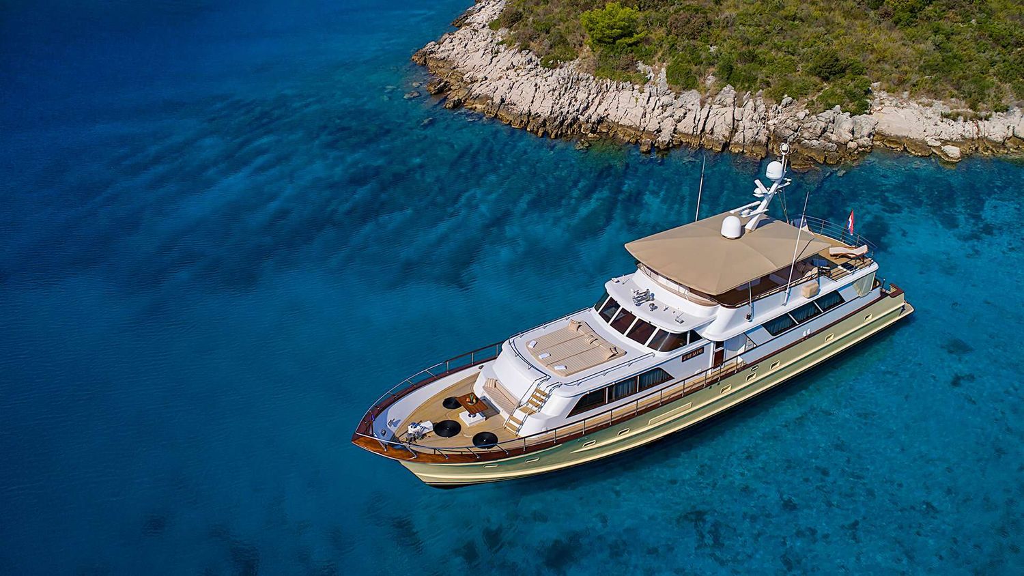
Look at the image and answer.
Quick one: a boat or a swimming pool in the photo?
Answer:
boat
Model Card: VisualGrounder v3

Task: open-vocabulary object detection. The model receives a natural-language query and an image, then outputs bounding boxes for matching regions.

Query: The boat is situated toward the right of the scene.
[347,146,909,497]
